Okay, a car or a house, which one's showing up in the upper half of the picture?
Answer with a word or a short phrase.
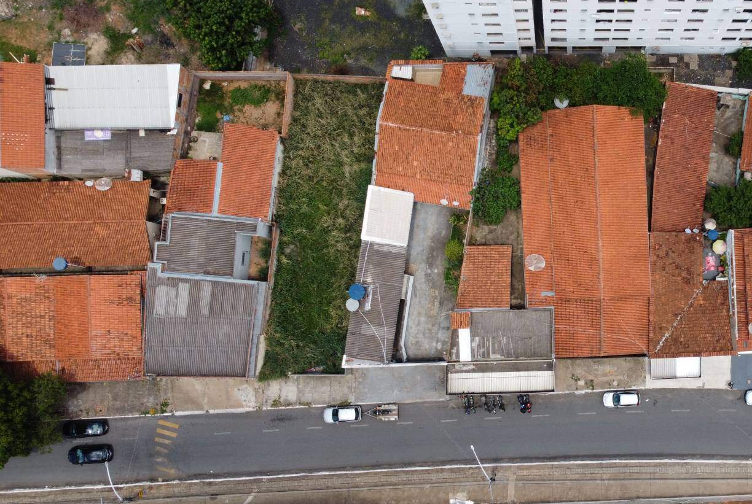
house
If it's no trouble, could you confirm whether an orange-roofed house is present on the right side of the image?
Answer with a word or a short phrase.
Yes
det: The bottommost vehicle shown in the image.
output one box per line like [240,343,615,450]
[70,444,115,463]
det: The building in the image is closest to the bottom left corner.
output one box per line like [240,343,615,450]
[0,273,144,382]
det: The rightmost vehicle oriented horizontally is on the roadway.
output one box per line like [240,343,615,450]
[603,390,639,407]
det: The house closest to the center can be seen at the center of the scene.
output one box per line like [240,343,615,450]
[344,185,417,362]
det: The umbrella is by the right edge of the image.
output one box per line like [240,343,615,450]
[712,239,726,254]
